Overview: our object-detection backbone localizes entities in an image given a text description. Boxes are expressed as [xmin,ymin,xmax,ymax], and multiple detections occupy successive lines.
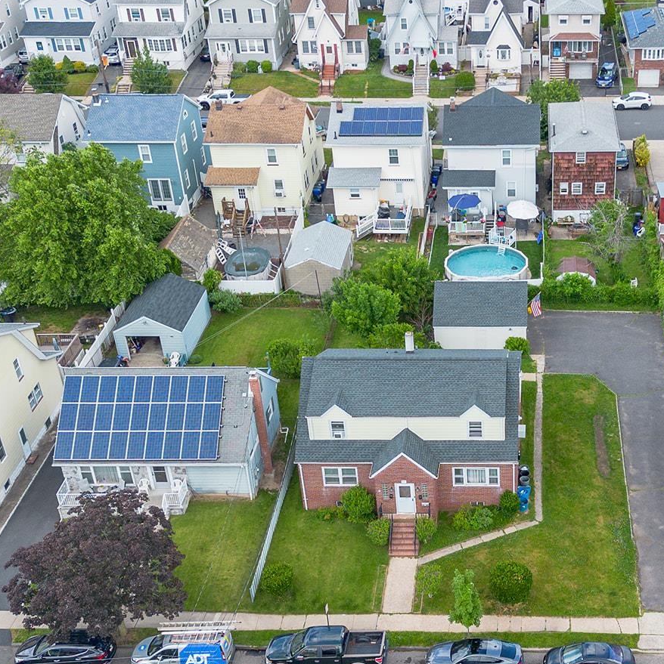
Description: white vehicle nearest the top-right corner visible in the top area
[610,90,653,110]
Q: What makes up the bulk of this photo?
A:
buildings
